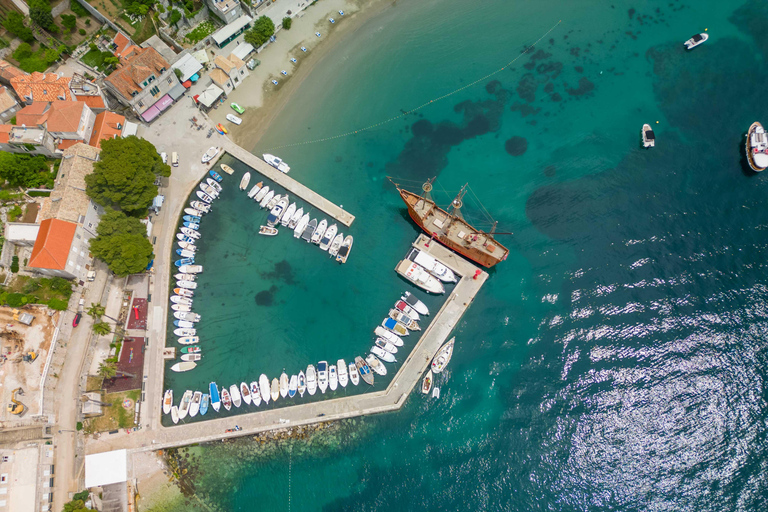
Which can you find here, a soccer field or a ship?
ship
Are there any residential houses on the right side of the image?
No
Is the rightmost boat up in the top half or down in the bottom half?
top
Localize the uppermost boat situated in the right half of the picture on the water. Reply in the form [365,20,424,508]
[682,34,708,50]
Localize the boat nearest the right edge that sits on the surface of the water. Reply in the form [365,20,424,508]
[746,121,768,173]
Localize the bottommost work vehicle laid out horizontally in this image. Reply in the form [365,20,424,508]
[10,351,40,364]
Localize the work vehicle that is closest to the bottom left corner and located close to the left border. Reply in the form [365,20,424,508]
[8,388,26,416]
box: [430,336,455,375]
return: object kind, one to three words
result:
boat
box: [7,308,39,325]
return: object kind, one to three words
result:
vehicle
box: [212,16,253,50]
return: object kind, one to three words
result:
building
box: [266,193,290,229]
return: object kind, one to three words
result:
boat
